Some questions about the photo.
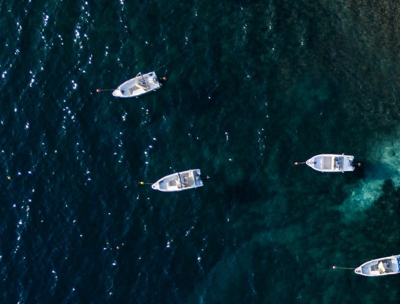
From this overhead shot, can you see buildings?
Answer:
No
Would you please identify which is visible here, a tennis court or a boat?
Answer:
boat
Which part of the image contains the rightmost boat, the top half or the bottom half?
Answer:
bottom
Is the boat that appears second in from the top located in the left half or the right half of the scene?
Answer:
right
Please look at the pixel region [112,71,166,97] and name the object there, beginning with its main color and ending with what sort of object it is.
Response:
white boat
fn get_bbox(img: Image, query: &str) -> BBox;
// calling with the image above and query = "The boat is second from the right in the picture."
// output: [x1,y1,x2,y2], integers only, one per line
[306,153,363,173]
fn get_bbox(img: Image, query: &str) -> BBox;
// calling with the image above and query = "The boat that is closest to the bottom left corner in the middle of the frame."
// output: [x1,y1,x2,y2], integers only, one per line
[151,170,210,192]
